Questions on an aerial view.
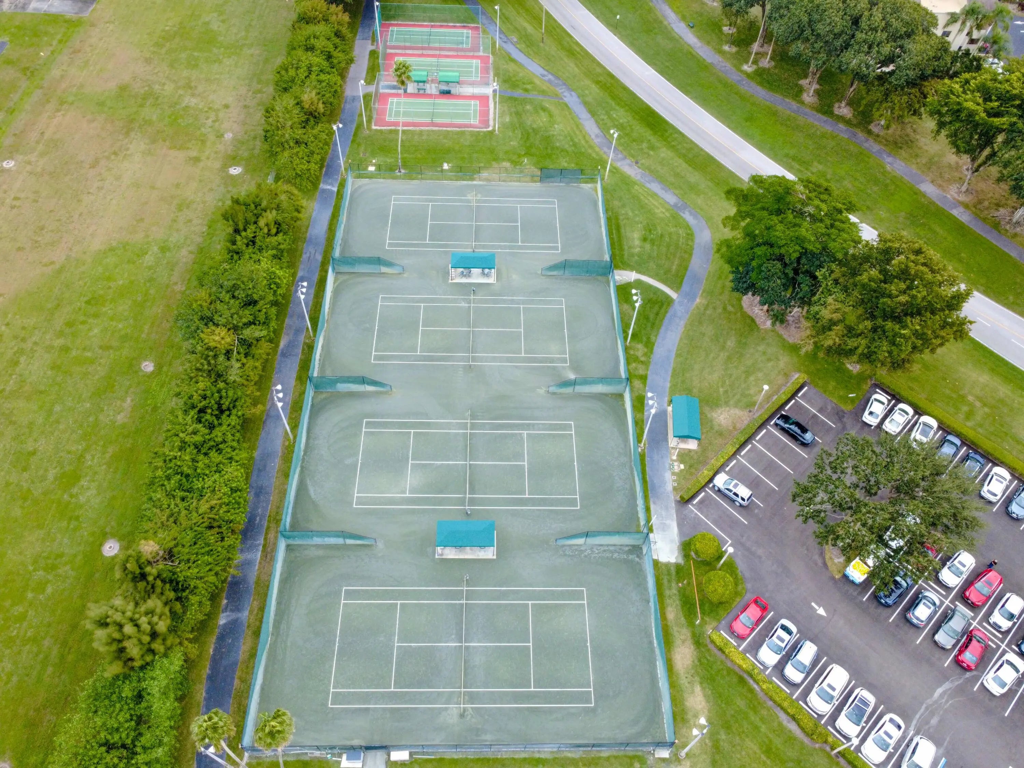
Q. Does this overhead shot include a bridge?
No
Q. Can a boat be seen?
No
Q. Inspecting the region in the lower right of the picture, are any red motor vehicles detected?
Yes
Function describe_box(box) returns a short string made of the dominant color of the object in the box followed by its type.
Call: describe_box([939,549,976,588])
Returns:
white car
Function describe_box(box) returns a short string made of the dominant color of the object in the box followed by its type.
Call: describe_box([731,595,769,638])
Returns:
red car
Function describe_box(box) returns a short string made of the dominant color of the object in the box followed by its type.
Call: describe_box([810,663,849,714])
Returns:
white car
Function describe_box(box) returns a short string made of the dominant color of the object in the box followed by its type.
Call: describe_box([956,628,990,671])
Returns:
red car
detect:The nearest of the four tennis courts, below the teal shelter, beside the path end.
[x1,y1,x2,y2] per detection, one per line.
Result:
[250,544,668,751]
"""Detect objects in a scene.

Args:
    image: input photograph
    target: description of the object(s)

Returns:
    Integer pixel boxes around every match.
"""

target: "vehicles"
[883,403,911,434]
[810,663,849,714]
[979,466,1010,502]
[939,549,976,588]
[845,545,880,584]
[1007,490,1024,521]
[759,618,796,666]
[956,628,990,671]
[894,733,936,768]
[776,416,814,446]
[989,591,1024,631]
[958,450,986,482]
[731,595,769,638]
[864,712,904,765]
[784,638,820,684]
[862,393,887,425]
[713,475,753,508]
[984,651,1023,696]
[964,567,1004,607]
[836,686,876,738]
[906,590,940,628]
[1013,625,1024,653]
[880,573,918,606]
[910,415,936,449]
[936,433,963,465]
[934,605,970,649]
